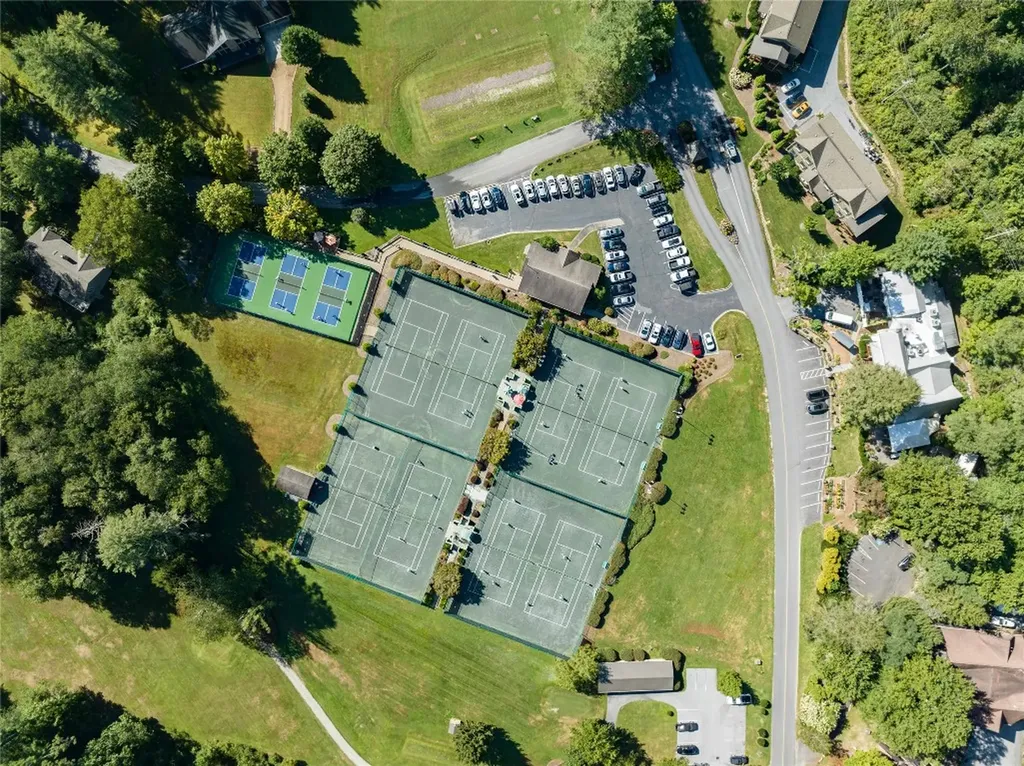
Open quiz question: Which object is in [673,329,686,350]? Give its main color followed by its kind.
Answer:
blue vehicle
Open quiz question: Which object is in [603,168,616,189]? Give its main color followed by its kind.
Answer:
white vehicle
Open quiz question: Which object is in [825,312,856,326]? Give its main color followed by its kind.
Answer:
white vehicle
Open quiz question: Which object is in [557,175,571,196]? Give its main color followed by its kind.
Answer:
white car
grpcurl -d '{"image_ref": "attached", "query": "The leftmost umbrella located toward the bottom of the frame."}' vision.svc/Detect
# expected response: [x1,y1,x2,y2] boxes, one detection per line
[459,527,473,540]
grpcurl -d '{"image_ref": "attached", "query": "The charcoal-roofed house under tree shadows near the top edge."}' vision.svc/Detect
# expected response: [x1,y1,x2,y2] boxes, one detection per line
[158,0,307,78]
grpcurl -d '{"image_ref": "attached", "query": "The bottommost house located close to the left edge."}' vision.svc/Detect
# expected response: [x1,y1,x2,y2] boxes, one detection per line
[20,225,113,299]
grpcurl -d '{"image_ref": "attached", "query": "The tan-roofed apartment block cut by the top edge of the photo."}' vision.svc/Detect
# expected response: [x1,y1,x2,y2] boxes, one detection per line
[740,0,825,81]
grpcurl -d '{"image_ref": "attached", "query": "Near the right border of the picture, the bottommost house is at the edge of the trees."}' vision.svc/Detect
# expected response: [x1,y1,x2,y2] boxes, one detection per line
[929,626,1024,721]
